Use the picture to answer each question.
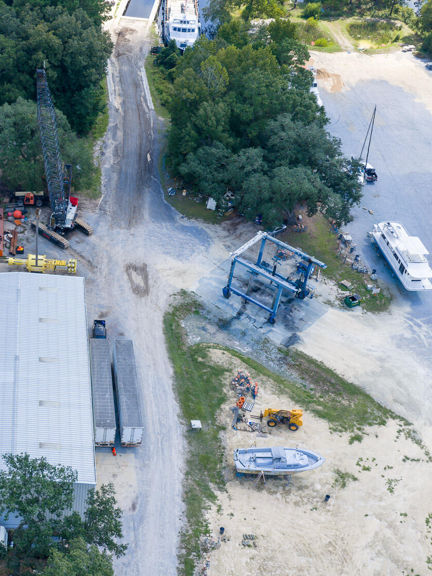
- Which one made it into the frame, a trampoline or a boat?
boat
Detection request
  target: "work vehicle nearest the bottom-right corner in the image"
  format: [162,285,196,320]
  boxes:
[251,407,311,430]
